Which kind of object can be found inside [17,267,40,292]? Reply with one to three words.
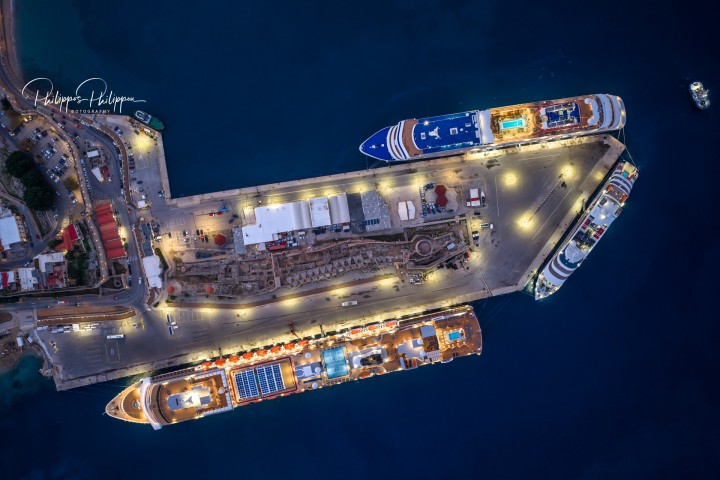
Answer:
house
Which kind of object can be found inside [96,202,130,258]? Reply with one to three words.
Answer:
building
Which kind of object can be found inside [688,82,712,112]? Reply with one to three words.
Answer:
boat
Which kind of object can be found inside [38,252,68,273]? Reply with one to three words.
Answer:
building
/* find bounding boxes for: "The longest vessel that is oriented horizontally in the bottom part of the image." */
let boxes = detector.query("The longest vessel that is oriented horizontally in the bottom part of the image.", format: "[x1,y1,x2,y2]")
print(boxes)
[105,309,482,431]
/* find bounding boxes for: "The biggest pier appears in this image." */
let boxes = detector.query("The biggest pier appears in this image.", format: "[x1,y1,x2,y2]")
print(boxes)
[34,134,625,391]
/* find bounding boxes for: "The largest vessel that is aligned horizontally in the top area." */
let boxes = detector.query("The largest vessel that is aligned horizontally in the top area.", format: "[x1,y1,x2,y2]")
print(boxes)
[359,93,625,157]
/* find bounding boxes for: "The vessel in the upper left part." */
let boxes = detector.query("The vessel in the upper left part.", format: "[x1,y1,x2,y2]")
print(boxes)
[131,105,165,129]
